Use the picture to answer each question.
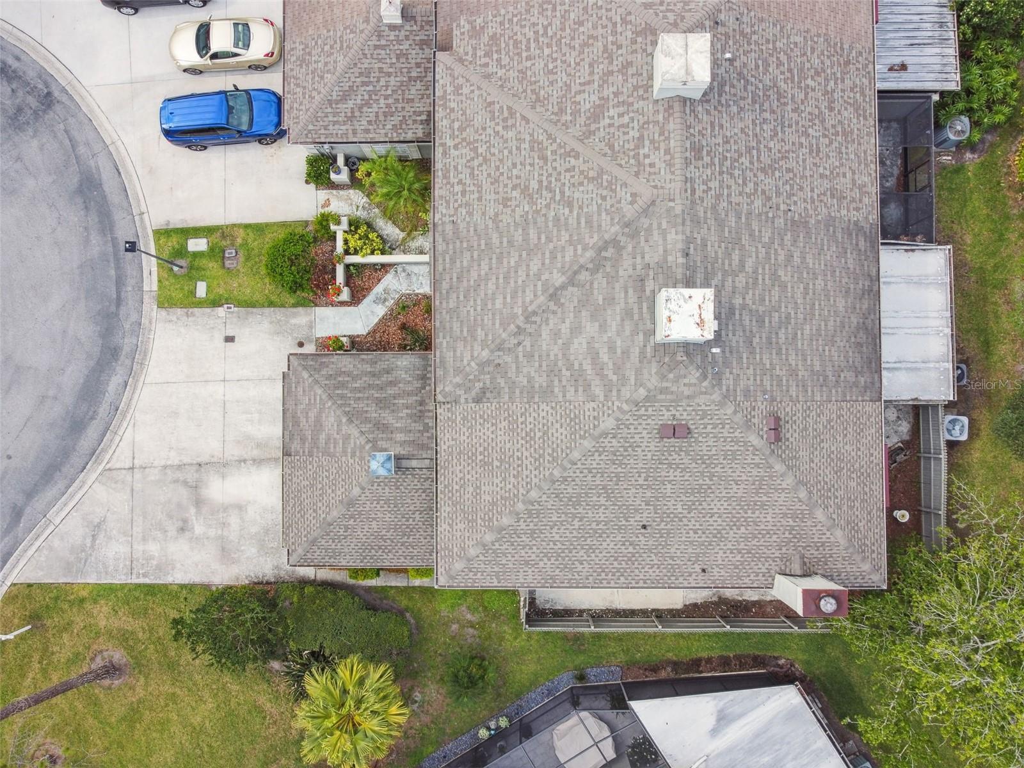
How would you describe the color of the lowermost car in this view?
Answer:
blue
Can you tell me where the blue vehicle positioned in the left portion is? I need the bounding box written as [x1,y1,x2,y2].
[158,76,292,151]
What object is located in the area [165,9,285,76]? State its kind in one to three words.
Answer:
car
